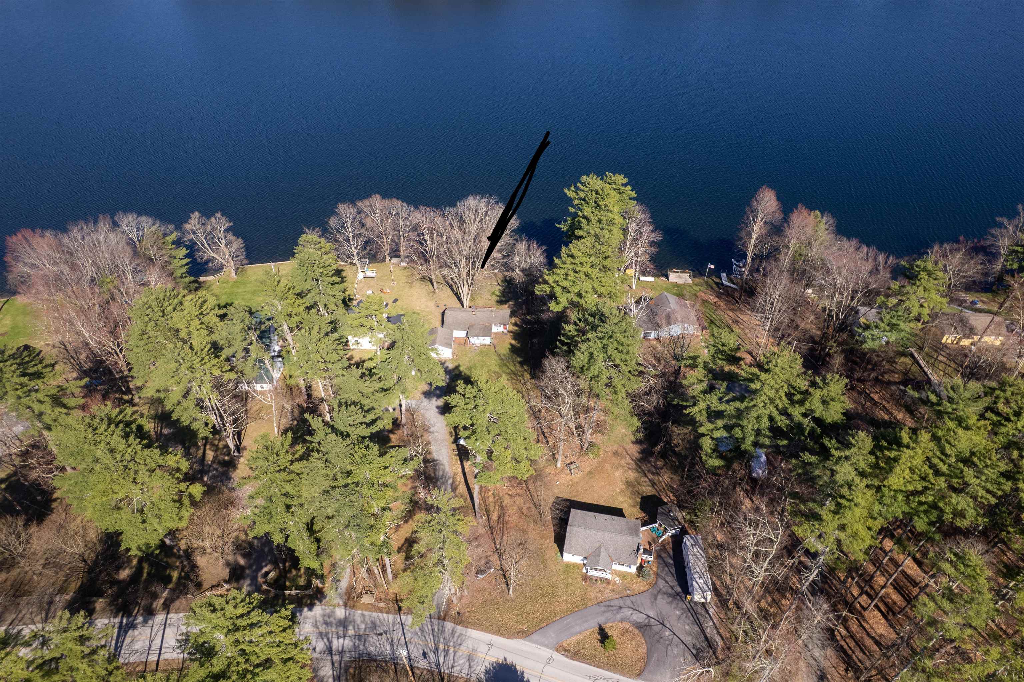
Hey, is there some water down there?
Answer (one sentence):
Yes, there is water in the image.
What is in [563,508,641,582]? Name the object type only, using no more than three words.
house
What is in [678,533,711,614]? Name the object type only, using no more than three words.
trailer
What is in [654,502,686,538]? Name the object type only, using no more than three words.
gazebo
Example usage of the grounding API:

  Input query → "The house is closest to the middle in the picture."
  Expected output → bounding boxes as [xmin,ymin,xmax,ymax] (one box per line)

[429,301,510,358]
